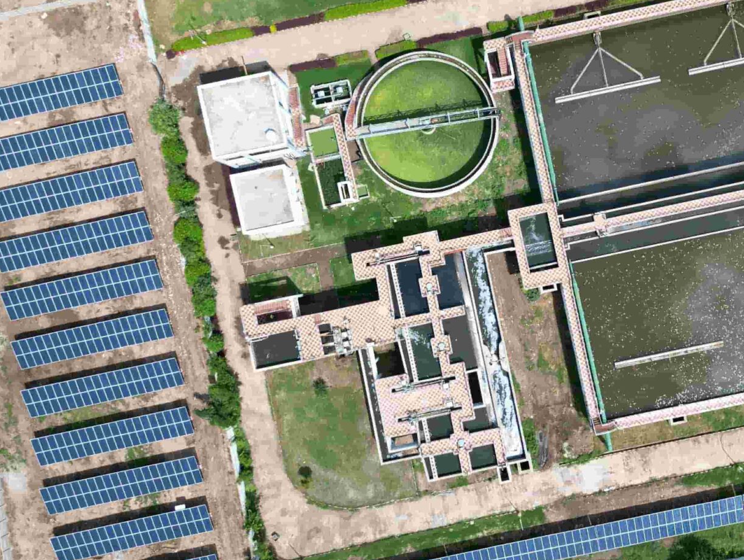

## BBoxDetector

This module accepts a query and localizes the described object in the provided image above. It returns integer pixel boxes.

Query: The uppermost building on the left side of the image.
[197,71,304,168]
